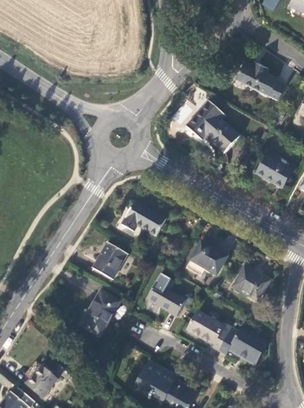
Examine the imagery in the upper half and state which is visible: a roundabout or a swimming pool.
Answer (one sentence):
The one visible in the upper half is a roundabout.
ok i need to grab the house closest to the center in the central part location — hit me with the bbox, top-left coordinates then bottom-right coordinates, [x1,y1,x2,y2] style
[117,200,166,239]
